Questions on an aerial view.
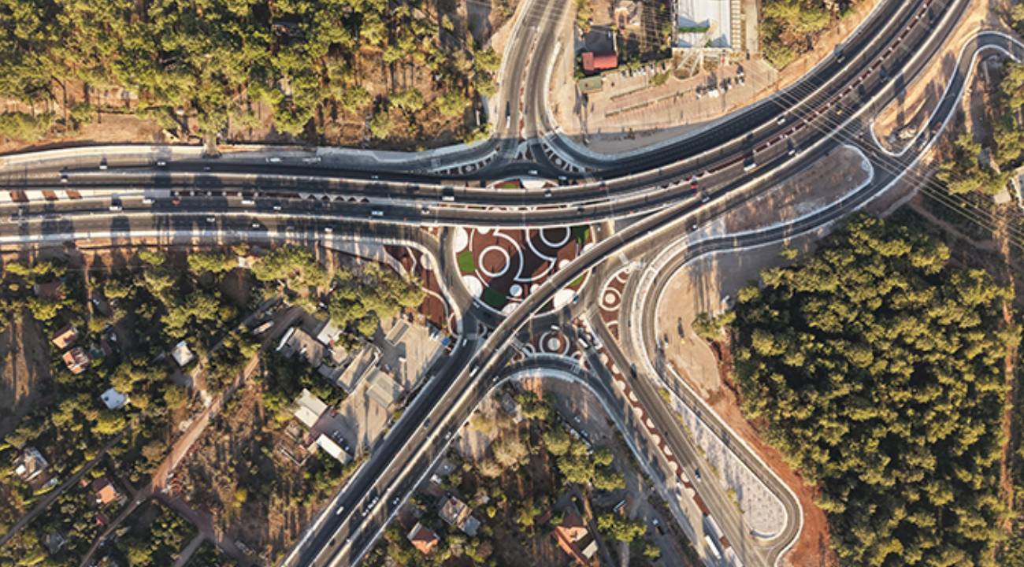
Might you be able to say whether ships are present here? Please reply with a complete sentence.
No, I can't see a single ship in this photo.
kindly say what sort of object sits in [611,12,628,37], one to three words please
house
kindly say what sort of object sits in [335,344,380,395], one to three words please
building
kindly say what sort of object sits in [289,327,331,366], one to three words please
building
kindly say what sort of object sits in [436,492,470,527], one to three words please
house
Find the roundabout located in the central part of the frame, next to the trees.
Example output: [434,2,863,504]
[434,158,612,335]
